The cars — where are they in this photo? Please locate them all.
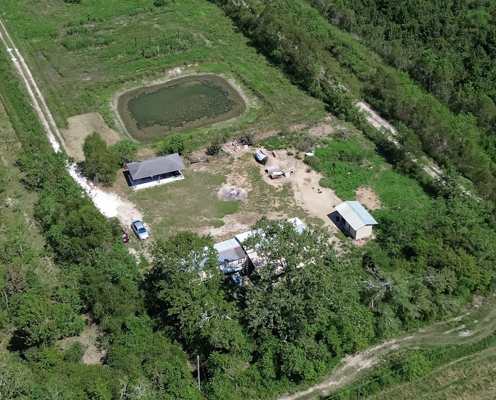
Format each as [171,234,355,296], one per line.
[132,218,149,237]
[109,224,125,243]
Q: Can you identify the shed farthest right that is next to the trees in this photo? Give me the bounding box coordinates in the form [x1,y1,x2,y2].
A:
[337,201,377,239]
